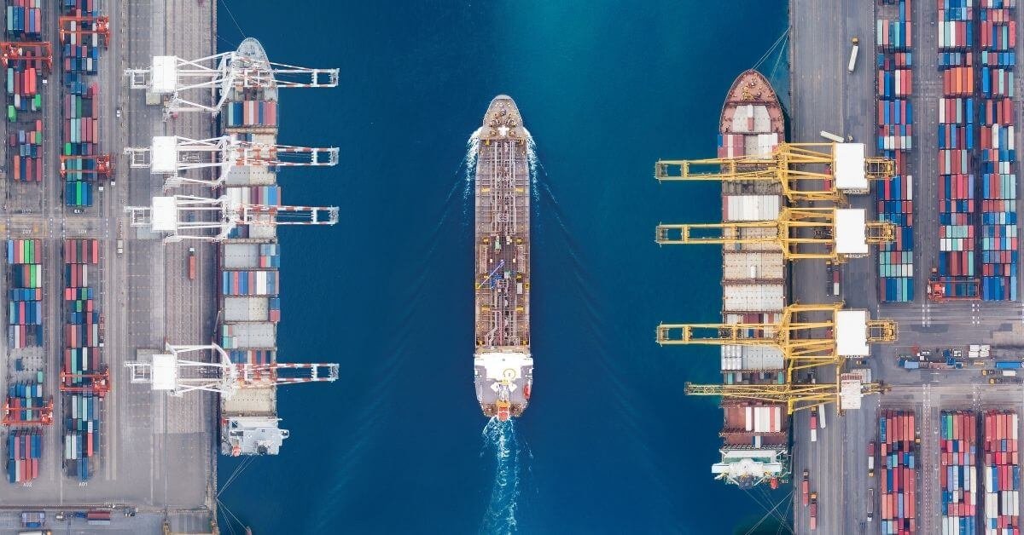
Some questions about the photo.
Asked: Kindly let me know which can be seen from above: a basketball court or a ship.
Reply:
ship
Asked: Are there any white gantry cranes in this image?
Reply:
Yes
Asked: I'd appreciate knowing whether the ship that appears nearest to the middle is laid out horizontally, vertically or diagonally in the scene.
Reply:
vertically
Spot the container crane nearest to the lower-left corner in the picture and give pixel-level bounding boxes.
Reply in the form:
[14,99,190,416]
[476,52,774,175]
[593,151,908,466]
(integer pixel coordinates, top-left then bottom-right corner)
[2,401,61,426]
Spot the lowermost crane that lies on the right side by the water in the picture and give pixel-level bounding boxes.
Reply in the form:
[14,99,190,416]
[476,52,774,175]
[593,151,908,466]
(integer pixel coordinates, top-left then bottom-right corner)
[684,353,889,422]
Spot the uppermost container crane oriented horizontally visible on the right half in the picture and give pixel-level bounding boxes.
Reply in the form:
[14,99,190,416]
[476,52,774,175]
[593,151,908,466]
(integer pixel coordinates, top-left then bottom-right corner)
[657,135,896,209]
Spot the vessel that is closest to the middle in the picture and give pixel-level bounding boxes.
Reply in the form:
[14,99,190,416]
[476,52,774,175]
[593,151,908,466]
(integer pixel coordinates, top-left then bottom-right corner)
[473,94,533,420]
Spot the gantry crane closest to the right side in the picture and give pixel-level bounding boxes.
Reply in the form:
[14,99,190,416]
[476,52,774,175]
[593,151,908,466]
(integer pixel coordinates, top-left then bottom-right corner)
[920,276,983,303]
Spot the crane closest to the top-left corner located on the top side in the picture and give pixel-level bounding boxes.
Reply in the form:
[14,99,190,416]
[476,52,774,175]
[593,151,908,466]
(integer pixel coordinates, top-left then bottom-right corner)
[0,40,59,67]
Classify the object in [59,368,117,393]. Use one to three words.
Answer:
container crane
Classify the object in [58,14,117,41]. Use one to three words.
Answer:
container crane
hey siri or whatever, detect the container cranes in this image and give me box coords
[657,203,896,272]
[59,368,117,393]
[2,401,61,426]
[657,135,896,209]
[125,187,337,251]
[659,293,897,370]
[58,14,117,41]
[125,336,337,404]
[58,153,120,178]
[920,276,983,303]
[0,40,59,67]
[125,52,337,117]
[125,128,337,192]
